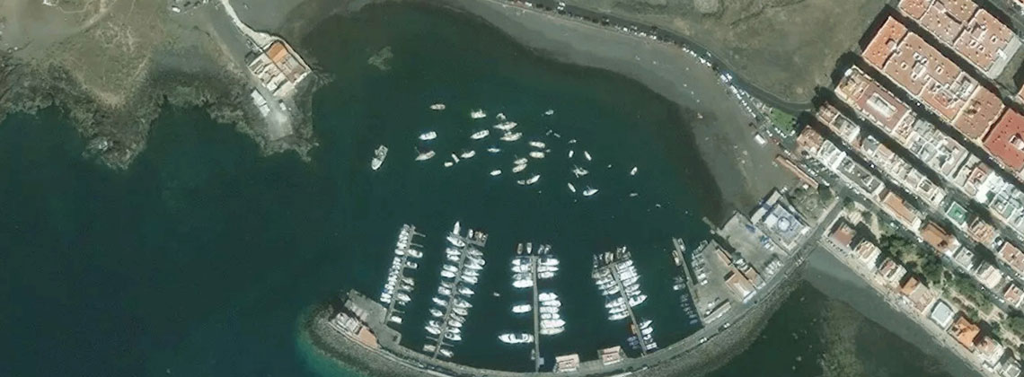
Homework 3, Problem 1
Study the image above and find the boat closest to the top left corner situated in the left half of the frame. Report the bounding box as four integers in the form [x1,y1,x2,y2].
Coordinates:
[372,144,388,169]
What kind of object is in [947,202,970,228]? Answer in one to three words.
house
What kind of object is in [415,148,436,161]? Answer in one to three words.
boat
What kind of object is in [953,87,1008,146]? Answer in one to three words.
building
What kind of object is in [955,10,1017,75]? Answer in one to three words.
building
